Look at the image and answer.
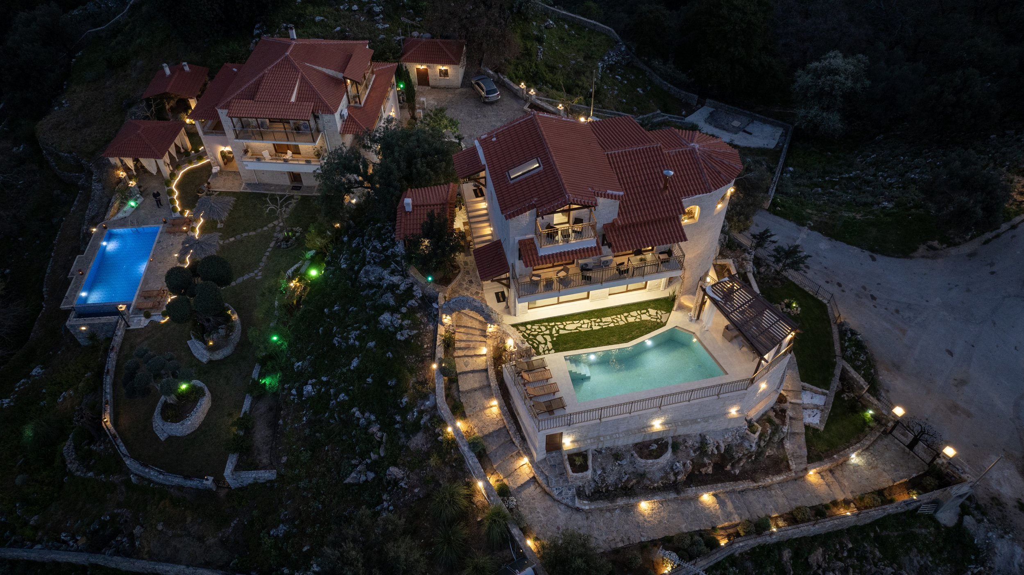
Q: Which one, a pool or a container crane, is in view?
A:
pool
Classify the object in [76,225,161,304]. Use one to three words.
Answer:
swimming pool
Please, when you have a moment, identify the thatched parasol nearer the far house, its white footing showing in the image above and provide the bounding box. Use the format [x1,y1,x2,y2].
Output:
[194,199,236,227]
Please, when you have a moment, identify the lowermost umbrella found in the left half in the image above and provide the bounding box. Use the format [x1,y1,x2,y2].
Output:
[176,236,220,265]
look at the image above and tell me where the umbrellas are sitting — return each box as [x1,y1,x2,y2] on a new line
[176,236,220,265]
[194,199,236,227]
